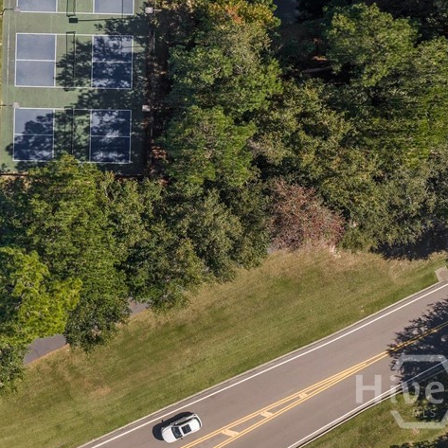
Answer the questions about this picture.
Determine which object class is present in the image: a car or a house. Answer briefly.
car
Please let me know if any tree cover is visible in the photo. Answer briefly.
Yes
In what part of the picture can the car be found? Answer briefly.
bottom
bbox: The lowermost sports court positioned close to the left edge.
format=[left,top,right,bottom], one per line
[0,98,148,174]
